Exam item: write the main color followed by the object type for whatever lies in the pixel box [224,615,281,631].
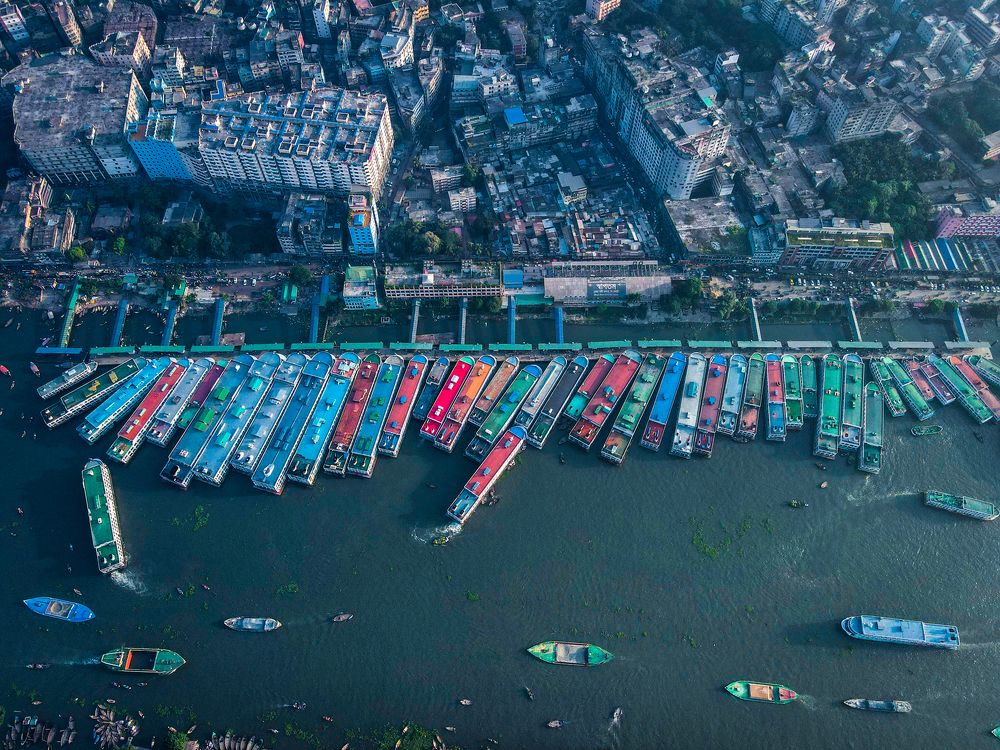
blue boat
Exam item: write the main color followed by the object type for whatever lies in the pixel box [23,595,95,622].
blue boat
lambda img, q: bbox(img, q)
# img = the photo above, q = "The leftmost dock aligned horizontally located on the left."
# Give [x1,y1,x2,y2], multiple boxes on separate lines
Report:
[30,346,90,367]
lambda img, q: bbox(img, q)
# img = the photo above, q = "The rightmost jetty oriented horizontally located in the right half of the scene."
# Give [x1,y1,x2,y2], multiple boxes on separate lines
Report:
[937,341,996,362]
